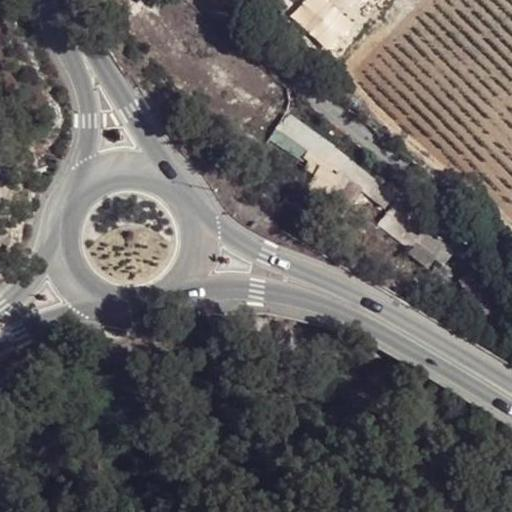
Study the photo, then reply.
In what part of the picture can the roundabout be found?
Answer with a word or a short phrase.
left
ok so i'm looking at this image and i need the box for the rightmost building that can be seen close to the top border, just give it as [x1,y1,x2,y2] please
[290,0,372,52]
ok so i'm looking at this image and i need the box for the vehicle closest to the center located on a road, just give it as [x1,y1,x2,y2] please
[268,256,291,271]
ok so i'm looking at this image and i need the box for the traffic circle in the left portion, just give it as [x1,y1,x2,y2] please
[44,152,218,326]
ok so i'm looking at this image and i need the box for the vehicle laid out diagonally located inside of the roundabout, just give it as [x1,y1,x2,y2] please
[159,161,176,180]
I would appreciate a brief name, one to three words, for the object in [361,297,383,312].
car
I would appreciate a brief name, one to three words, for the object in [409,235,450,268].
building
